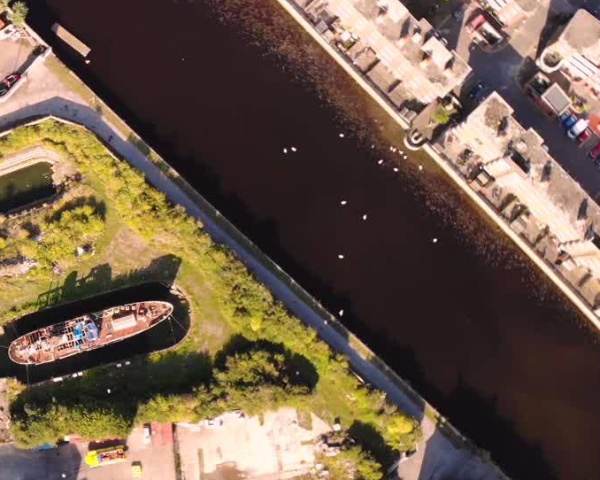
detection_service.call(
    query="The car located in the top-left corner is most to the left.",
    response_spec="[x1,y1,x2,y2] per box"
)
[3,73,19,88]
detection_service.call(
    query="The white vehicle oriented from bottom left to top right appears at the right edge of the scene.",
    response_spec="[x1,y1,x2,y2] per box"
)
[570,119,592,137]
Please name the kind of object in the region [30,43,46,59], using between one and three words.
car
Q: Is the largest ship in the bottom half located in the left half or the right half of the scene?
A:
left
